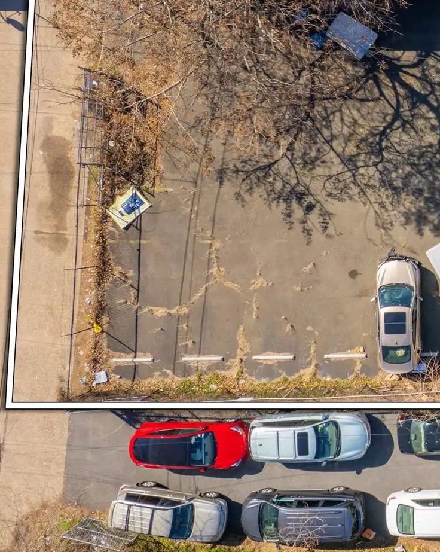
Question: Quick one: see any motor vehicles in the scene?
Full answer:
Yes, this view includes a motor vehicle.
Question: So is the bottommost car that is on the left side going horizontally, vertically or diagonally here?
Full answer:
What the image shows is the bottommost car that is on the left side lying horizontally.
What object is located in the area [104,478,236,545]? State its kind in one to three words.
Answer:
car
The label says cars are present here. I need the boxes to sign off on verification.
[104,478,236,545]
[371,244,424,374]
[399,408,440,457]
[249,407,374,466]
[129,415,251,474]
[244,484,368,545]
[386,485,440,538]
